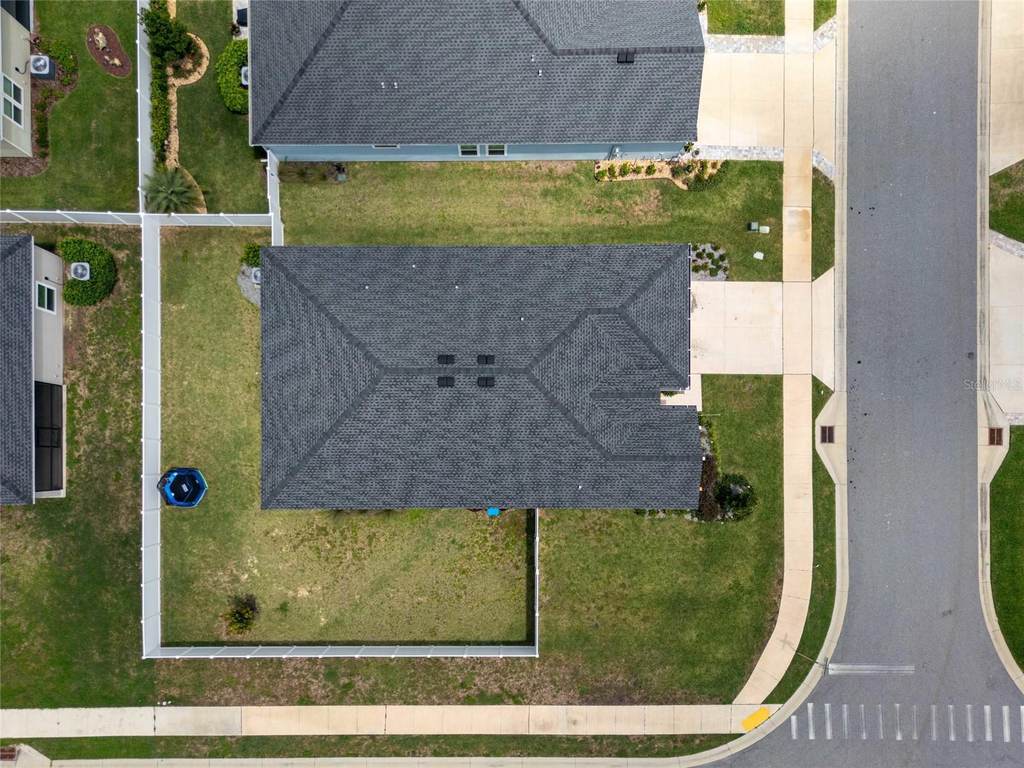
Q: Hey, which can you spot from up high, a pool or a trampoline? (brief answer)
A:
trampoline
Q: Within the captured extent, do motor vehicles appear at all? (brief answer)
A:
No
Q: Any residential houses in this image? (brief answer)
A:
Yes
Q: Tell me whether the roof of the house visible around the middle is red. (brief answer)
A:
No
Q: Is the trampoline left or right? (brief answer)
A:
left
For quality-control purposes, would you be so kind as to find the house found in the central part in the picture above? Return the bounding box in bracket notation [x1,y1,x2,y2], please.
[259,244,706,511]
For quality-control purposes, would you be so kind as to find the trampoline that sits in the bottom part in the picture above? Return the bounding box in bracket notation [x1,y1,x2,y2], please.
[155,470,212,508]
